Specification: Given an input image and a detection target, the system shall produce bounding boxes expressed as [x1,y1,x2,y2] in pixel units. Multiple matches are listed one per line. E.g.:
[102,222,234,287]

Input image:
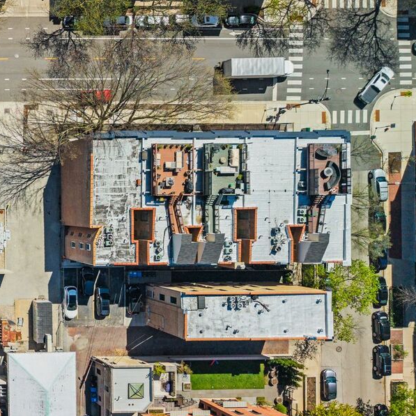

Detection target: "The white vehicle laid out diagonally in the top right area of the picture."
[360,67,396,104]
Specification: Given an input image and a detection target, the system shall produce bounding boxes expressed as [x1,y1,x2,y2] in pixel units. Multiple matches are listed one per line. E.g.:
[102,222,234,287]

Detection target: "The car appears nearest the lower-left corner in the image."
[64,287,79,320]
